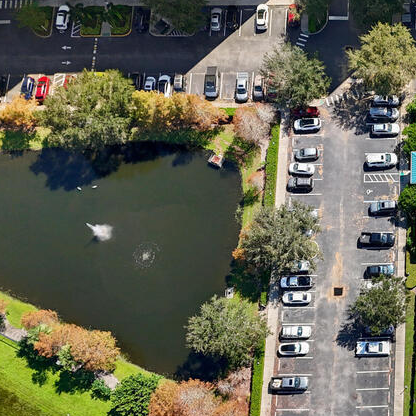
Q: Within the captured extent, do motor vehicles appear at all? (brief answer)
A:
Yes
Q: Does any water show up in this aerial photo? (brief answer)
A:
Yes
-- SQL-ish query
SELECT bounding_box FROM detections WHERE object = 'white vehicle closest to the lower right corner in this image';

[355,341,391,356]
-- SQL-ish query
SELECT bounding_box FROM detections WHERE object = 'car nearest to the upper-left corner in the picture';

[55,5,70,30]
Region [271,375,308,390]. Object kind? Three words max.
vehicle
